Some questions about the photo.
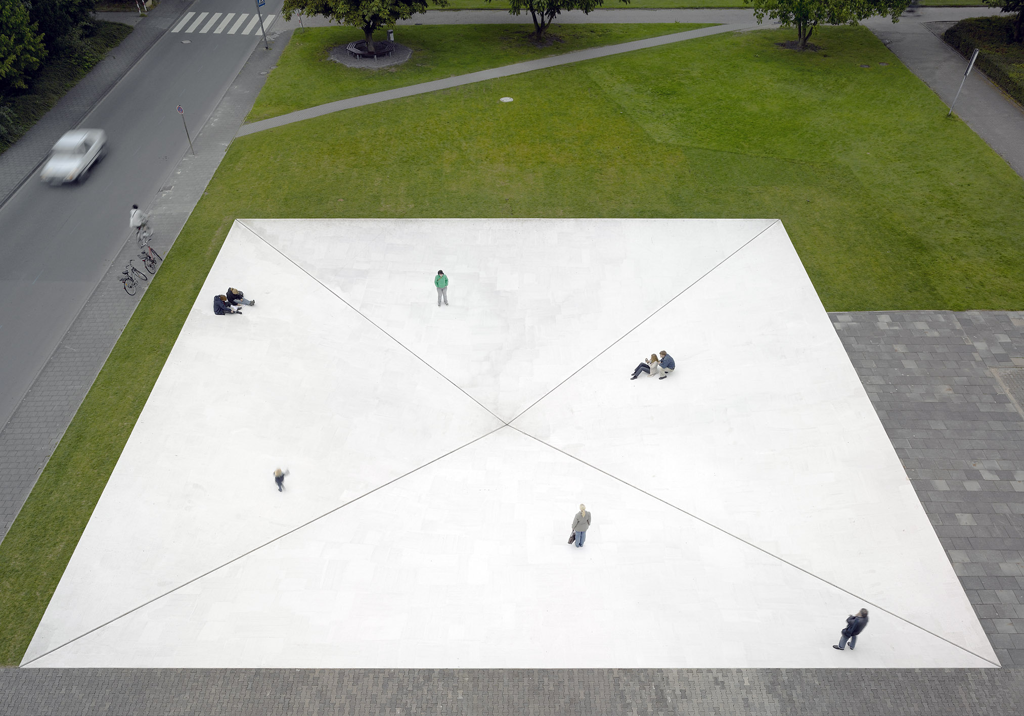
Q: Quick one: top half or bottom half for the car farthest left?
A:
top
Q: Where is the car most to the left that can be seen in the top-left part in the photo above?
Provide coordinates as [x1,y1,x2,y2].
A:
[38,132,106,184]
